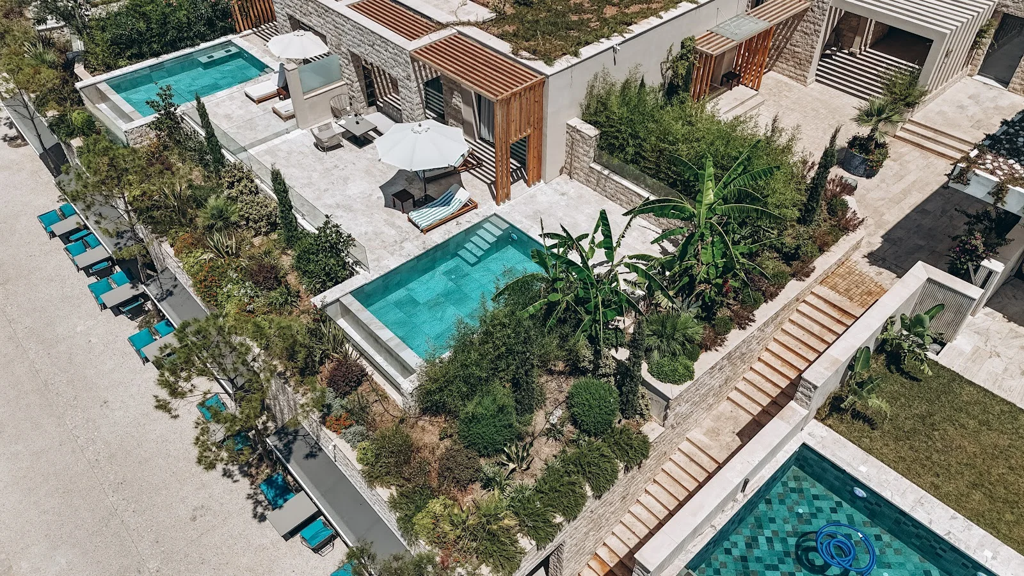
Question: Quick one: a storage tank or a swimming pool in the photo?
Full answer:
The one in the frame is a swimming pool.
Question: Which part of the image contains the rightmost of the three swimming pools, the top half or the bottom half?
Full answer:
Seen from above, the rightmost of the three swimming pools lies in the bottom half of the view.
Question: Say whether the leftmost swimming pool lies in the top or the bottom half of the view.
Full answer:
The leftmost swimming pool is in the top half of the image.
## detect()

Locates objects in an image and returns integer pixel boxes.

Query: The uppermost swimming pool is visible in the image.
[87,31,288,144]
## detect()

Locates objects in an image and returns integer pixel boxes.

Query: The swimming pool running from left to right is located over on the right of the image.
[655,417,1024,576]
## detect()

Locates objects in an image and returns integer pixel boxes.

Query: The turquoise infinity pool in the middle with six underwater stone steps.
[310,203,593,428]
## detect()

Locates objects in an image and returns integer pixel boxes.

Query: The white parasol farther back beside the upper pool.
[264,31,334,63]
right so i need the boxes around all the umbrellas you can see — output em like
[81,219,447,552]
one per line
[368,118,471,207]
[264,31,334,63]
